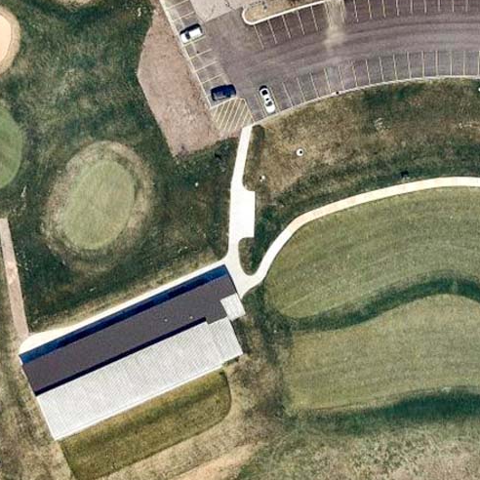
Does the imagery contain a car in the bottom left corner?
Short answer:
No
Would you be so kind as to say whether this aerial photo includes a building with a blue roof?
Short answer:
No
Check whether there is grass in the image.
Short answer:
Yes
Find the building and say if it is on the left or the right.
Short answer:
left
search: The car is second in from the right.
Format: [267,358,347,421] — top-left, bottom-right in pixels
[211,86,237,102]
